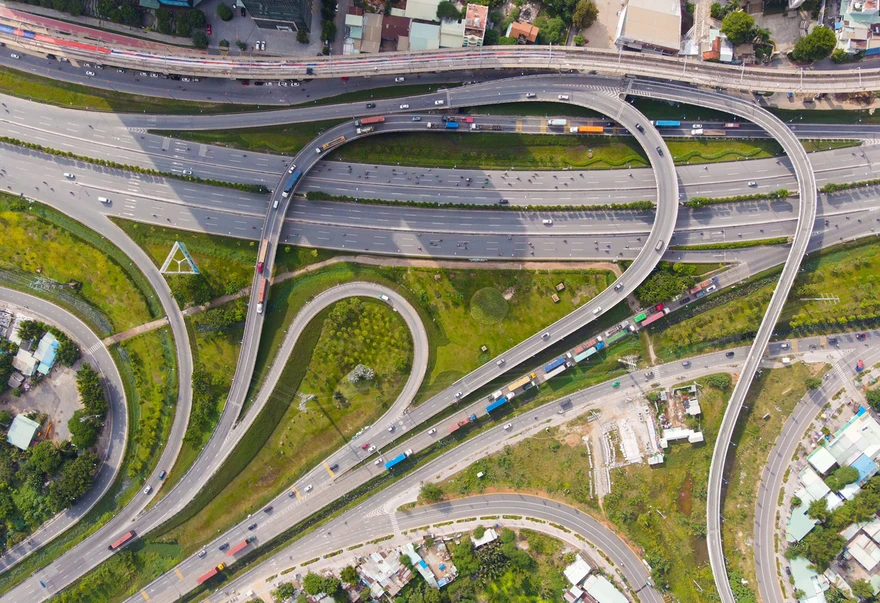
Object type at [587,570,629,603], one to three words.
house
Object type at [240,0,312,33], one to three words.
building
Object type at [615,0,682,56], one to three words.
house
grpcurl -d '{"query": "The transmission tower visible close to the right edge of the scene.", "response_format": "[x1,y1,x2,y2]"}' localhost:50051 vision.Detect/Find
[817,290,846,308]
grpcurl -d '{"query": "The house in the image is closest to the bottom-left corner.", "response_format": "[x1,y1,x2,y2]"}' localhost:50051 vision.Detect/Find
[7,412,46,449]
